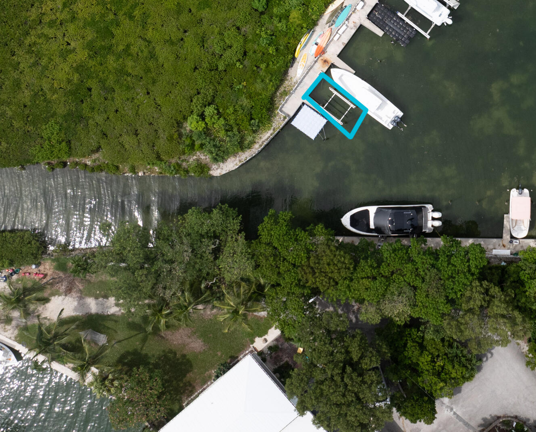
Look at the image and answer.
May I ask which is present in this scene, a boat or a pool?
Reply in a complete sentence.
This aerial view contains a boat.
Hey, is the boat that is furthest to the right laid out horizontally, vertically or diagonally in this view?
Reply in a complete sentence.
I'd say the boat that is furthest to the right is aligned vertically in the picture.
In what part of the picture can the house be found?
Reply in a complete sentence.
The house is located in the bottom region of the scene.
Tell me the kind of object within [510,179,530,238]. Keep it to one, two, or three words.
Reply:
boat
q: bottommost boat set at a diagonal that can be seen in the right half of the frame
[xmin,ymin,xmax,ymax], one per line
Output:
[331,68,411,136]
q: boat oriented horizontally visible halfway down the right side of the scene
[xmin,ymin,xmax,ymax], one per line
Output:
[341,204,442,234]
